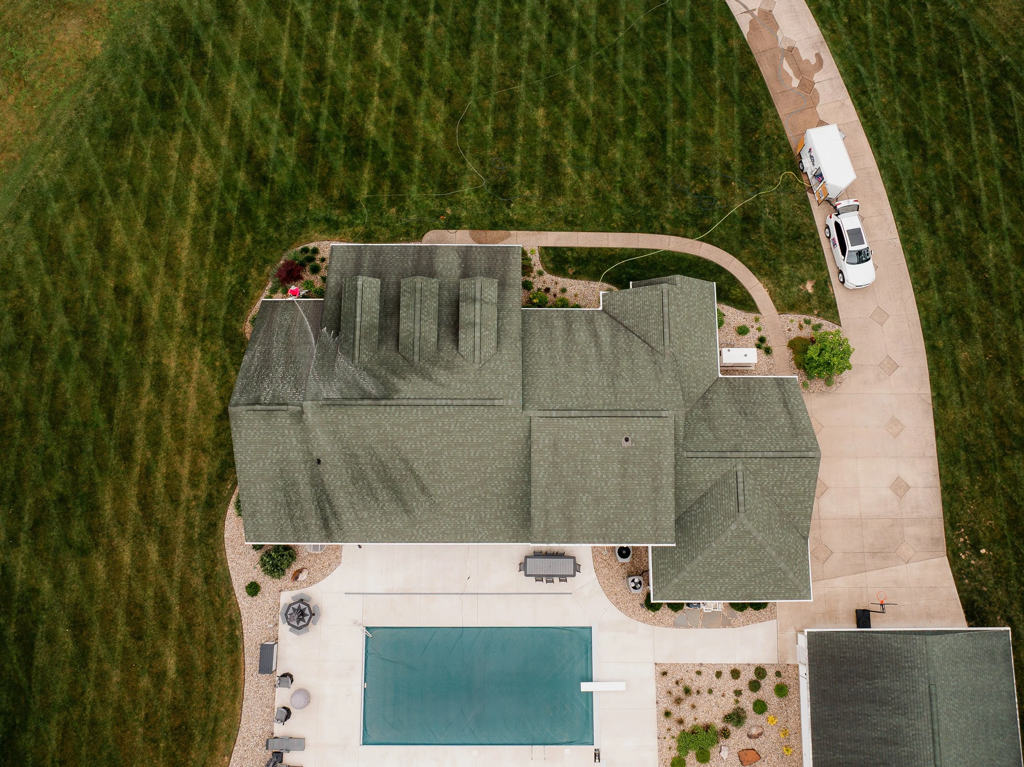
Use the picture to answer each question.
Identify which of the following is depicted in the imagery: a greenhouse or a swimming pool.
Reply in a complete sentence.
I can see a swimming pool in this picture.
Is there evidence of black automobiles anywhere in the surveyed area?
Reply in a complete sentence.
No, the photo shows no black automobile.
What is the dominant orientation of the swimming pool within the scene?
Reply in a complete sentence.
The swimming pool is oriented from side to side.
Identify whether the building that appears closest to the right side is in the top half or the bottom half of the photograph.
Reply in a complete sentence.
The bottom half of the photo is where the building that appears closest to the right side is.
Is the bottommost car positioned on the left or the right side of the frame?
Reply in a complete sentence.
The bottommost car is on the right side of the image.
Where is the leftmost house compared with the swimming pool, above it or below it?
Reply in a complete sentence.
Within the scene, the leftmost house can be found above the swimming pool.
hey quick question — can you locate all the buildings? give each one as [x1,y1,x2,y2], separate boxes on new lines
[229,242,822,604]
[794,627,1024,767]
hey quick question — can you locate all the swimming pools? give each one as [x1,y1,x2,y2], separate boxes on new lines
[358,622,601,749]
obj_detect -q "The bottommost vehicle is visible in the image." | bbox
[823,198,874,289]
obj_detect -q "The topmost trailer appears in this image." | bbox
[795,122,857,216]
